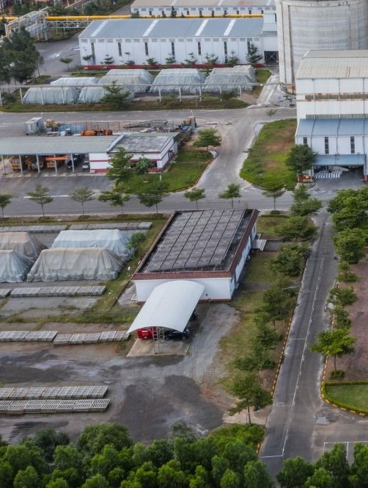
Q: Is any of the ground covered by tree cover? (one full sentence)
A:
Yes, tree cover can be seen from above here.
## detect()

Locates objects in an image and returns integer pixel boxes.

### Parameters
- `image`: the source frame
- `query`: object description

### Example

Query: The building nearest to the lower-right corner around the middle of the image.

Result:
[131,202,272,301]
